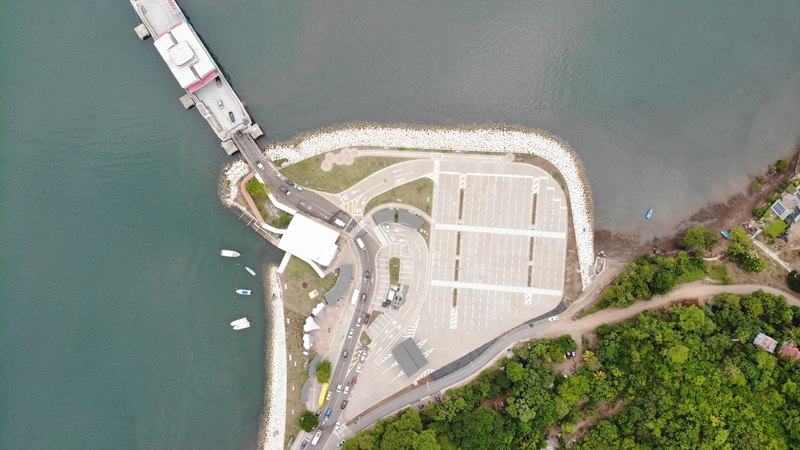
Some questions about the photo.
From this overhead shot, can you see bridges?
Yes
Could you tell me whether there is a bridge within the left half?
Yes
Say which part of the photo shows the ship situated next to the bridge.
top left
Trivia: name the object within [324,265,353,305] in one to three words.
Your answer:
building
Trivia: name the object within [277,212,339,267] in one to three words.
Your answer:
building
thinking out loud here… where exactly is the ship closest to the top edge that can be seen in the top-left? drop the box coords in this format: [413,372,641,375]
[130,0,252,141]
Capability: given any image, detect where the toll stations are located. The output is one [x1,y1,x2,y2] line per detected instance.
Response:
[391,338,428,377]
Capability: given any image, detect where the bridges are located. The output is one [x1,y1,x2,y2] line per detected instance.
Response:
[230,130,270,172]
